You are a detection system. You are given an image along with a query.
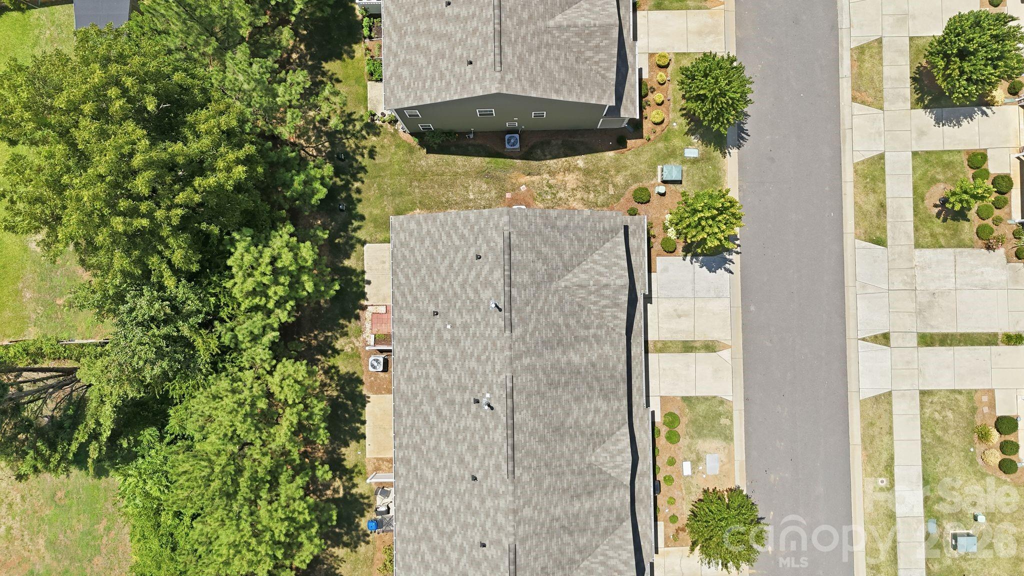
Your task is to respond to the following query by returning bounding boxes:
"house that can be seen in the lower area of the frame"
[389,208,655,576]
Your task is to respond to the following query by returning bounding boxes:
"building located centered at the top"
[382,0,640,132]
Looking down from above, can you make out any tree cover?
Yes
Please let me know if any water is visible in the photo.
No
